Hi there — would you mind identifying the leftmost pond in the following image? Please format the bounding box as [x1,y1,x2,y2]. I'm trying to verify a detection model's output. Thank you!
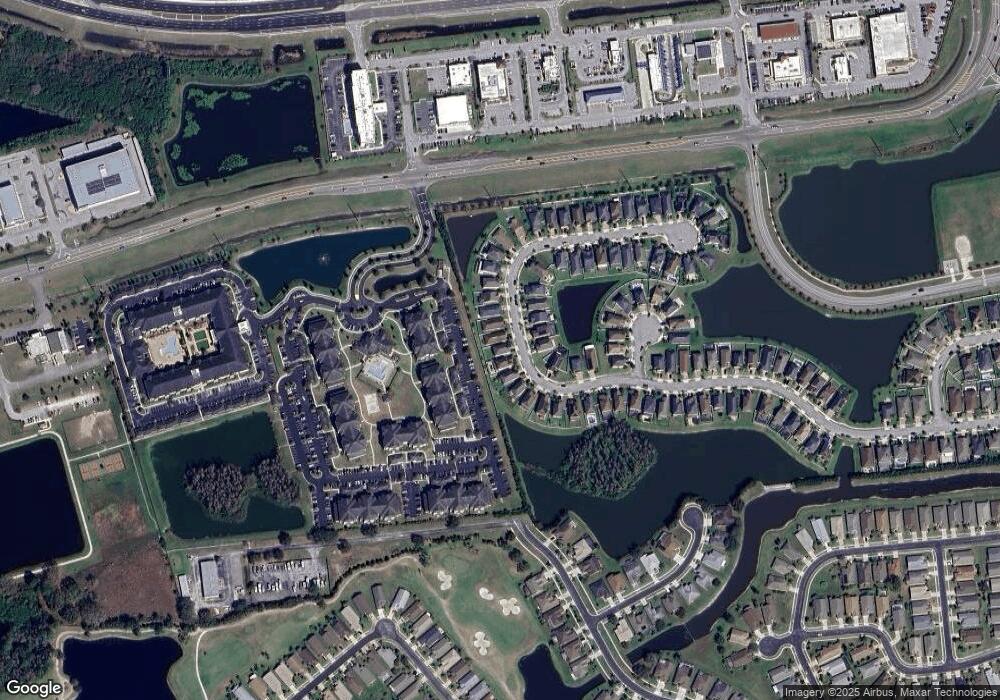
[0,102,77,144]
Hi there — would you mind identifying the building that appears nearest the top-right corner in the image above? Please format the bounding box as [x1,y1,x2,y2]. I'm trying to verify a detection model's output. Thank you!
[867,12,912,76]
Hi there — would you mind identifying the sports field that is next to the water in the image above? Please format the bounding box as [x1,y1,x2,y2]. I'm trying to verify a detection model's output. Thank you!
[62,409,118,452]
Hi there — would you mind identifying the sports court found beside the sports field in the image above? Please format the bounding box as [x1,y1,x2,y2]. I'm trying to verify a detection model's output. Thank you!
[80,450,125,480]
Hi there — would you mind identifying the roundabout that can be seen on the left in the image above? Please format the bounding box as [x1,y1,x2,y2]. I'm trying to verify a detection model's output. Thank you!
[339,293,385,331]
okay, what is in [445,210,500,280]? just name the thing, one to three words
pond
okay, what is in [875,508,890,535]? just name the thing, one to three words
house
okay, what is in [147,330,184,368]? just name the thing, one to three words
swimming pool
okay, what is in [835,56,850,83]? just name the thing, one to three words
building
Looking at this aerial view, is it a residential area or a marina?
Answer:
residential area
